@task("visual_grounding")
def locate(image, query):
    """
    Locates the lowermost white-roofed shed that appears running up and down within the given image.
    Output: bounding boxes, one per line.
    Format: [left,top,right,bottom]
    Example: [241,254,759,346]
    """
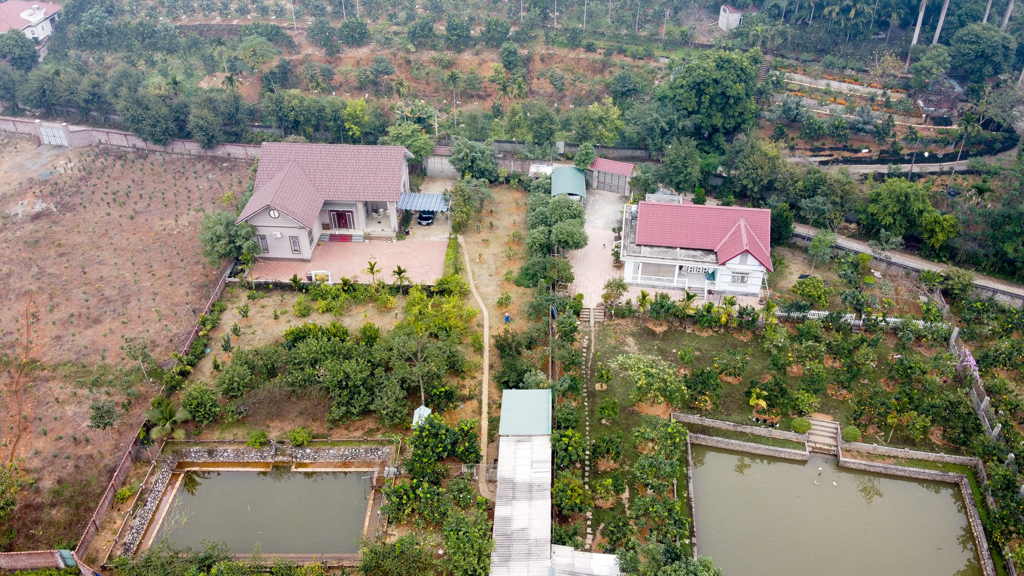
[497,435,560,576]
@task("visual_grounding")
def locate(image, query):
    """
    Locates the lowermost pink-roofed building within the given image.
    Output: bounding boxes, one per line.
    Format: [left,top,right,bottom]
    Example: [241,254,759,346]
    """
[620,191,775,301]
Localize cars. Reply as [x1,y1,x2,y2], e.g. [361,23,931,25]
[418,211,436,225]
